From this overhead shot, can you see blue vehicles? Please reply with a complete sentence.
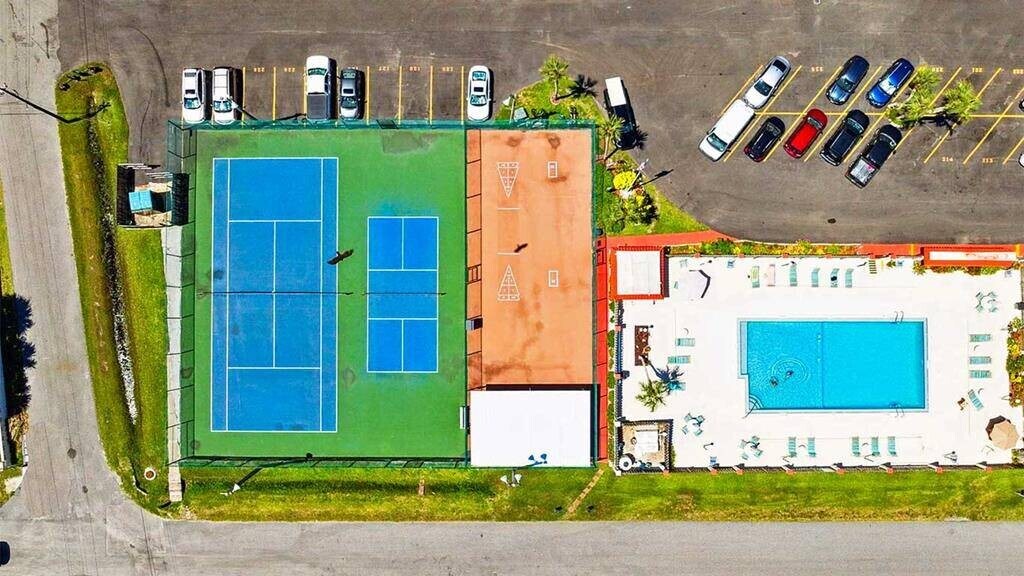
Yes, there's a blue vehicle here.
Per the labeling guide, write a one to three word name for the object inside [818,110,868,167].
car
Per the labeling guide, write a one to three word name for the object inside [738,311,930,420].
swimming pool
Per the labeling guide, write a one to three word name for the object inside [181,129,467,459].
tennis court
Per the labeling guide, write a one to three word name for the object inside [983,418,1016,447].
umbrella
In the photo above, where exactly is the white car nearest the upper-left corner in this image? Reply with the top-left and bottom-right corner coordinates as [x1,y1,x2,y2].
[180,67,211,121]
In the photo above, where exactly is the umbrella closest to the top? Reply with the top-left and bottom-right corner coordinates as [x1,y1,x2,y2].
[680,270,711,301]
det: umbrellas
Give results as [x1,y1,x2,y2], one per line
[680,270,711,301]
[983,418,1016,447]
